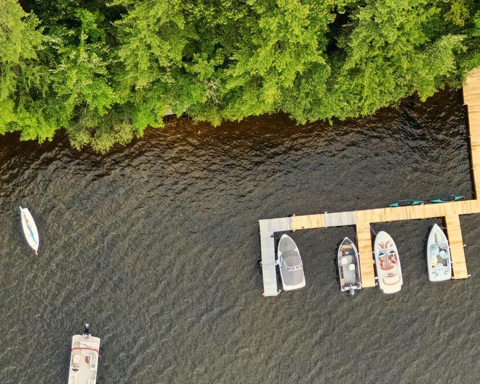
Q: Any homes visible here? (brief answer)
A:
No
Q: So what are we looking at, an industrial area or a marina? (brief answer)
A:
marina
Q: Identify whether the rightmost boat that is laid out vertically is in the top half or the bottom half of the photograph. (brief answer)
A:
bottom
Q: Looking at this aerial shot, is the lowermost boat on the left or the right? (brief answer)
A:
left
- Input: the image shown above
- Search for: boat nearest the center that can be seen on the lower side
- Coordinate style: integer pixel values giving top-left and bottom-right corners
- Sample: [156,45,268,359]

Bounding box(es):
[278,234,307,291]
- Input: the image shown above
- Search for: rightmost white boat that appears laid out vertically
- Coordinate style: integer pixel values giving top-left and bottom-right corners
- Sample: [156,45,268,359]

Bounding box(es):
[424,223,452,282]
